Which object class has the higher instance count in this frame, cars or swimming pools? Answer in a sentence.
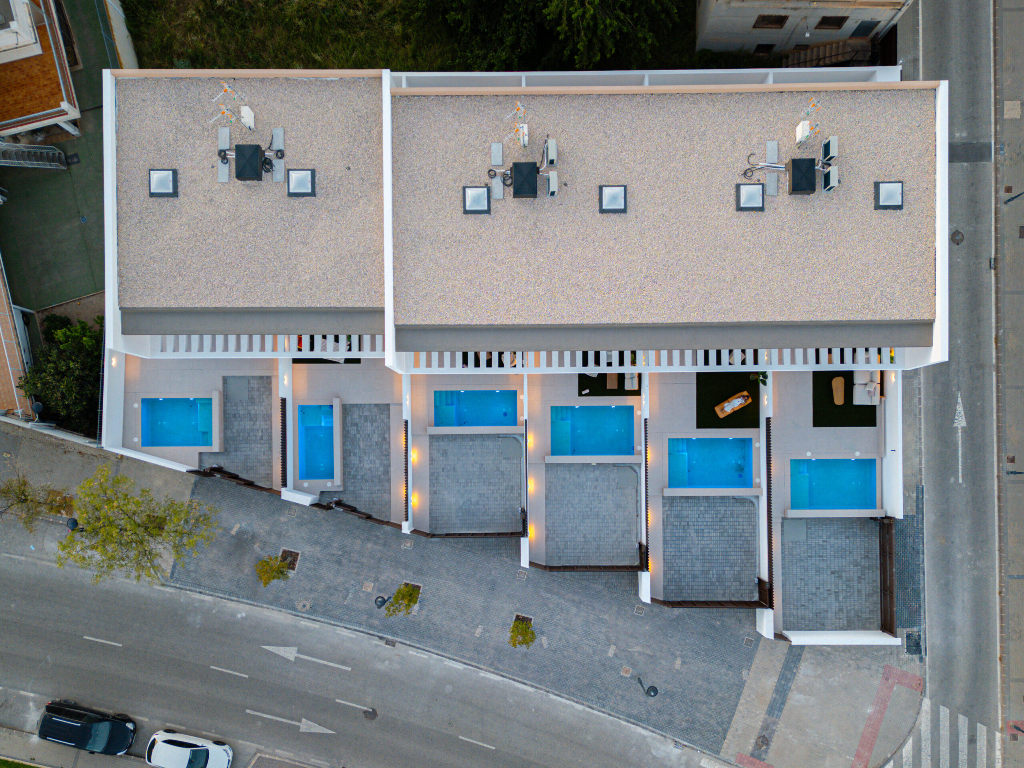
The image shows a greater number of swimming pools than of cars.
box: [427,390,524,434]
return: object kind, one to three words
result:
swimming pool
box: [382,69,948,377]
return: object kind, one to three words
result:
house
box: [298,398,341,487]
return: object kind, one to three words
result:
swimming pool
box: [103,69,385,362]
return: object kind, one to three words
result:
house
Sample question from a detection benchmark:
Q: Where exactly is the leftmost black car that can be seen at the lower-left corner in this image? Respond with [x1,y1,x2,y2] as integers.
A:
[33,695,139,757]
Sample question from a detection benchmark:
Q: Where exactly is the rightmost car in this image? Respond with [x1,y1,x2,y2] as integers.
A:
[144,726,234,768]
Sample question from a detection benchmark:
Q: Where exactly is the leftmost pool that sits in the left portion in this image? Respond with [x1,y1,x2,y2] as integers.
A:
[133,391,224,452]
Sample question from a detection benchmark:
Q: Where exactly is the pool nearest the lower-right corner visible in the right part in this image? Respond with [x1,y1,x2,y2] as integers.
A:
[786,451,885,517]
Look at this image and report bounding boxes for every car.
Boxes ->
[16,307,41,370]
[144,726,234,768]
[33,695,139,757]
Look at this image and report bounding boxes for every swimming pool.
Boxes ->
[298,398,341,487]
[427,390,524,434]
[133,391,224,452]
[545,406,641,463]
[662,438,760,496]
[786,451,885,517]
